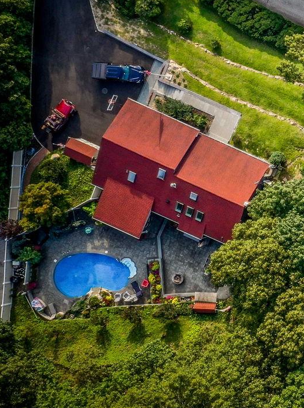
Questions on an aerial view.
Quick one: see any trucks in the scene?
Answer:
Yes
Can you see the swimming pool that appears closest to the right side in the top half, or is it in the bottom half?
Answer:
bottom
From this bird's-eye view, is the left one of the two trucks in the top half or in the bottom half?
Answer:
top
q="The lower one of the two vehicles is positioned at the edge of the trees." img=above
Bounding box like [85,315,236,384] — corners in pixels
[35,94,78,139]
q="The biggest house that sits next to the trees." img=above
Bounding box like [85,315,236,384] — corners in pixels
[92,96,278,244]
